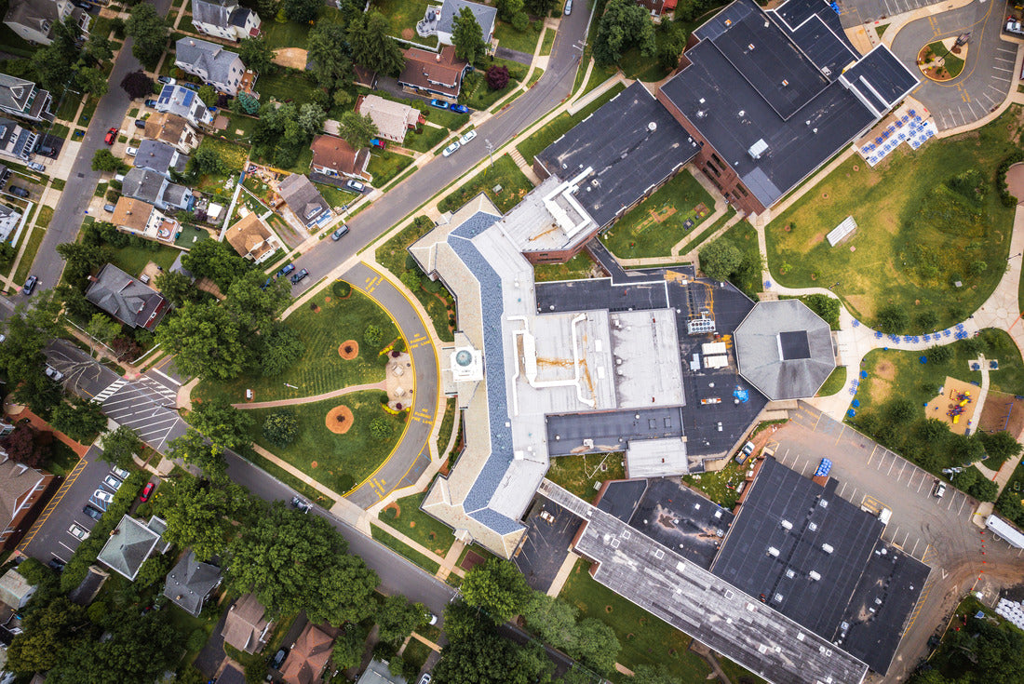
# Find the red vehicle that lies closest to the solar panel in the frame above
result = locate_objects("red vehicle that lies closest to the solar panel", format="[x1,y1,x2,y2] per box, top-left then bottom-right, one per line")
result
[103,127,119,146]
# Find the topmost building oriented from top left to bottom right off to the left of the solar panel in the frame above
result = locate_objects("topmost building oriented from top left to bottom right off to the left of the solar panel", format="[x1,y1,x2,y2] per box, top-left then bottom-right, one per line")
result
[0,69,60,125]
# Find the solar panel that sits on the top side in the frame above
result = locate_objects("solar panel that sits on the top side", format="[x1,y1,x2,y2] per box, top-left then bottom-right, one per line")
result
[159,85,195,107]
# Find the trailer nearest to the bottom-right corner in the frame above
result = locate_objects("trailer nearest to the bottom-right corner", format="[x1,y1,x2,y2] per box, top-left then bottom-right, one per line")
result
[974,511,1024,552]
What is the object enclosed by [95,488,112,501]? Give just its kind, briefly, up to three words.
vehicle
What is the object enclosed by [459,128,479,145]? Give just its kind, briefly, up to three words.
car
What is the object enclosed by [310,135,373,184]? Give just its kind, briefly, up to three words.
house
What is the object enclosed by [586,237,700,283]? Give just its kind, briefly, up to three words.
building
